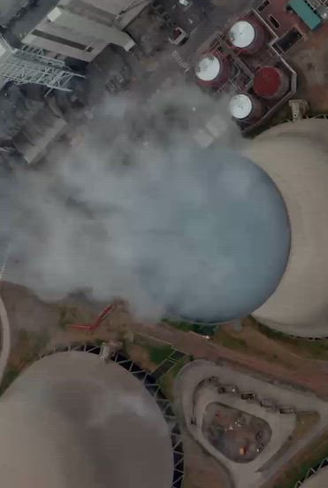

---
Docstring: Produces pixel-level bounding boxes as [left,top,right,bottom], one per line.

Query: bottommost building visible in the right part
[287,95,304,120]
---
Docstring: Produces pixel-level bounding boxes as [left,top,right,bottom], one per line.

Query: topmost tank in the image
[230,21,266,53]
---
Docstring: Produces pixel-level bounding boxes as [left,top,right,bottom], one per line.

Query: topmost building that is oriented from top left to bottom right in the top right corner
[288,0,324,31]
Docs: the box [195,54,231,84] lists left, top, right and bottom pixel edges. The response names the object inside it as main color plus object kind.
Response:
white storage tank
